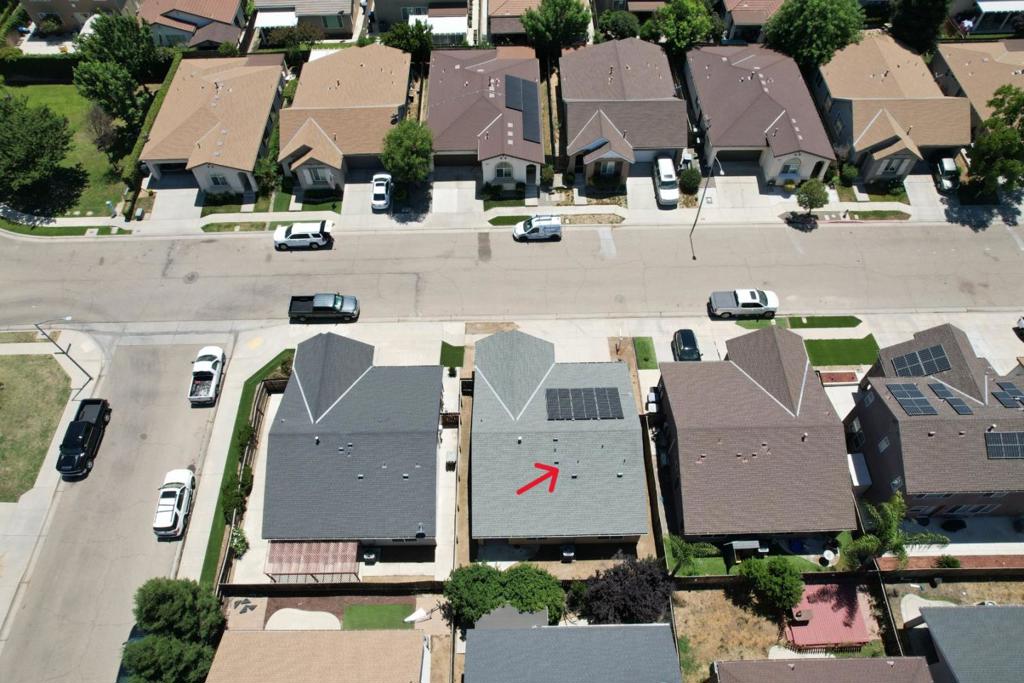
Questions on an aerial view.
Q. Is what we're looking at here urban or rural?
urban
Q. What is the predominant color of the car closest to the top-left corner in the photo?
white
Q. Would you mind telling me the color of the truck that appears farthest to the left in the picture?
black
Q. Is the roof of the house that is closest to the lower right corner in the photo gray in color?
Yes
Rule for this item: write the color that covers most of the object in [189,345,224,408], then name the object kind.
white truck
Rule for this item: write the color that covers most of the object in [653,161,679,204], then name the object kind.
white vehicle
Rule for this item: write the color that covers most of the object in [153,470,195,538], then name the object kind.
white car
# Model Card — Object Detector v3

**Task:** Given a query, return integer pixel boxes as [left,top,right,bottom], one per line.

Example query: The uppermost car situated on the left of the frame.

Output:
[370,175,393,212]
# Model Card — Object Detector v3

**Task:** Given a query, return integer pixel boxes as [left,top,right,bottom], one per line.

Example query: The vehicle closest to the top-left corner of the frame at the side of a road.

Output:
[270,221,331,252]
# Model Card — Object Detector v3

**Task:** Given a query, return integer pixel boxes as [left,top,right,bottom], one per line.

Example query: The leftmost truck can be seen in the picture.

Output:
[59,401,110,474]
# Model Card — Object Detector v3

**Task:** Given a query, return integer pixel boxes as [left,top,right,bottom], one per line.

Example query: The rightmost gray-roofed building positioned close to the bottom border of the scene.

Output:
[896,599,1024,683]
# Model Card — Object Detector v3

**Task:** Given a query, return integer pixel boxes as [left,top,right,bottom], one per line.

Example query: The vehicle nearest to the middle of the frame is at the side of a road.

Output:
[512,218,562,244]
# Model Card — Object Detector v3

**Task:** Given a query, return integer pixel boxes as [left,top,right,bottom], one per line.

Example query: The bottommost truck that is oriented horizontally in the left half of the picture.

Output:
[288,293,359,322]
